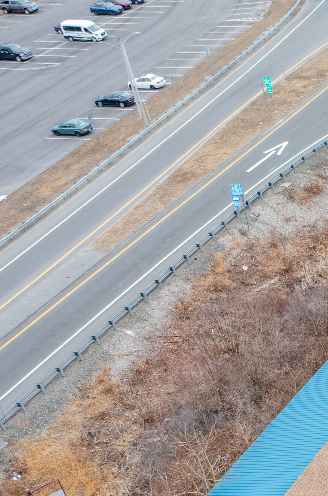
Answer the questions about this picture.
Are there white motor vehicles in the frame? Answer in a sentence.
Yes, the frame does contain a white motor vehicle.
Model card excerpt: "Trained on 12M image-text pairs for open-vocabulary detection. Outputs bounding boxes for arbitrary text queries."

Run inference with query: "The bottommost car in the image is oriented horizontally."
[50,119,91,136]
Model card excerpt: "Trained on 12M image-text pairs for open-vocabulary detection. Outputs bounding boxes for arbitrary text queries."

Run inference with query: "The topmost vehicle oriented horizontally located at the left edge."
[0,0,38,13]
